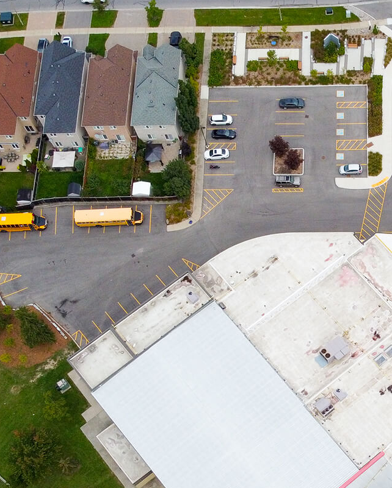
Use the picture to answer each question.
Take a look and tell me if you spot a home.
Yes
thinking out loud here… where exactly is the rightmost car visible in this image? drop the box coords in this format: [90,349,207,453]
[338,163,362,176]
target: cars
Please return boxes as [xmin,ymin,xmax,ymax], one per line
[274,173,301,187]
[338,163,362,176]
[204,148,230,161]
[210,127,237,140]
[279,98,305,110]
[207,113,235,126]
[36,36,51,56]
[168,32,181,46]
[61,35,73,48]
[81,0,105,6]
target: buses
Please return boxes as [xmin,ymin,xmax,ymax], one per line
[0,212,51,232]
[73,207,147,230]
